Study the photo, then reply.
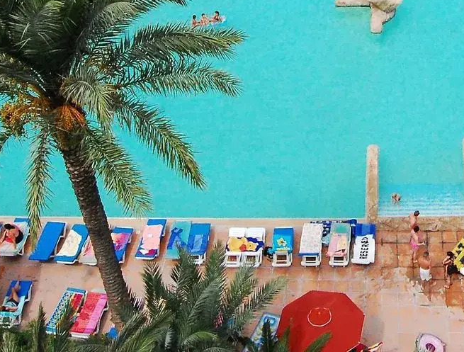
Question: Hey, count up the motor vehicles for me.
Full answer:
The photo contains no motor vehicles.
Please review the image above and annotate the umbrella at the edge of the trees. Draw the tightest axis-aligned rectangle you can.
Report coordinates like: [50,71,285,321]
[276,291,365,352]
